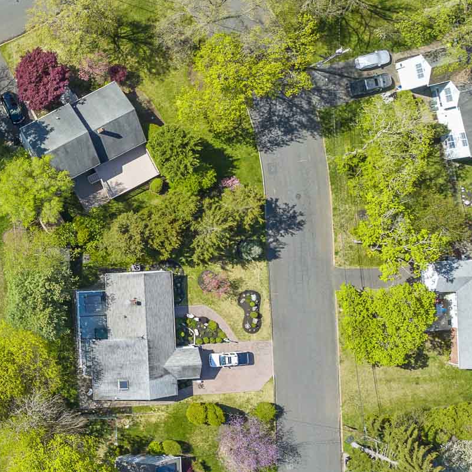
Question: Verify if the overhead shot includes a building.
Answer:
Yes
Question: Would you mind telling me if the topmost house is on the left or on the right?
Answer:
right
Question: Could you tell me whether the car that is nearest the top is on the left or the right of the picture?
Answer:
right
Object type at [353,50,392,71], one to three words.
car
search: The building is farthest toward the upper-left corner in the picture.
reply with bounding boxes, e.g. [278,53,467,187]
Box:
[16,81,147,190]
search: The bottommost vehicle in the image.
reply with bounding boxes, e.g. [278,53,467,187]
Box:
[208,351,255,369]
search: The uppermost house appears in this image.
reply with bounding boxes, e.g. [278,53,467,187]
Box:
[399,47,463,91]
